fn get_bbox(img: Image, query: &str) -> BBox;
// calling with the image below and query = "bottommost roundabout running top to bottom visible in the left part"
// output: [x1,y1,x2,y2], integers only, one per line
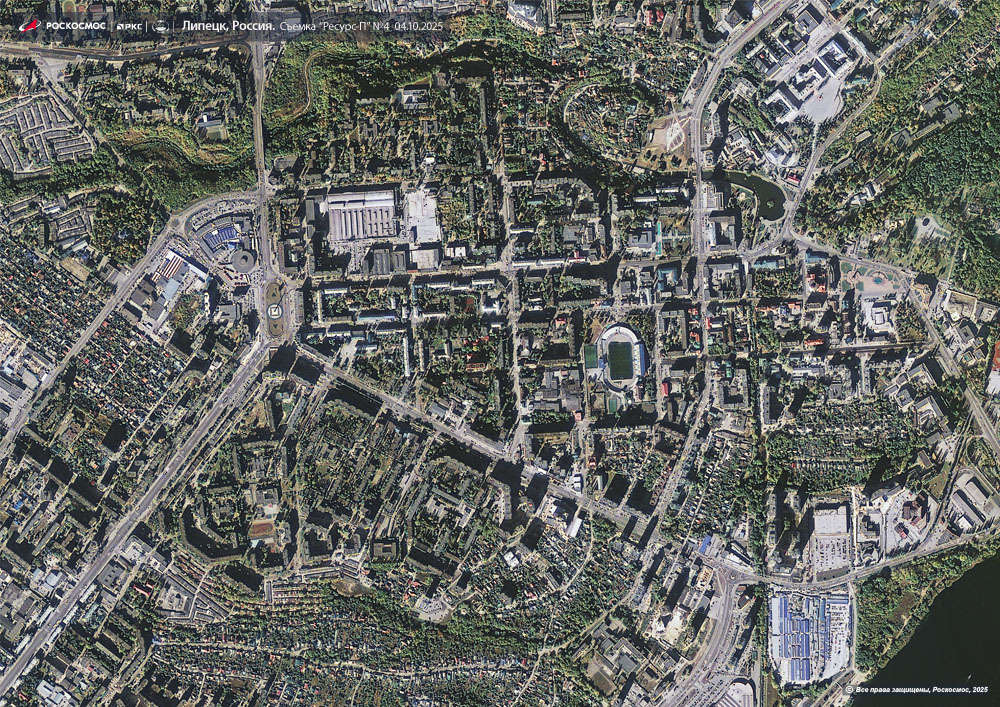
[267,278,284,336]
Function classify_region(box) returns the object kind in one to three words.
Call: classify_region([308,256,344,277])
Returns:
building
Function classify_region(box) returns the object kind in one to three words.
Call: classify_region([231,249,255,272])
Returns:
building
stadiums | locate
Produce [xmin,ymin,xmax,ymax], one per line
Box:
[602,325,646,392]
